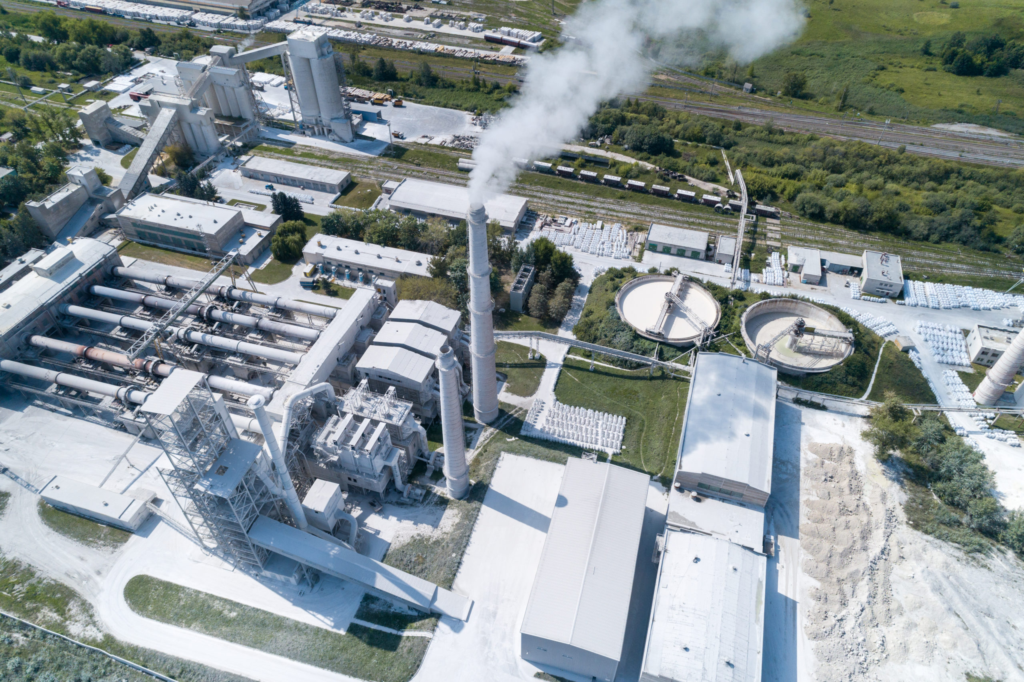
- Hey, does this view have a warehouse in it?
Yes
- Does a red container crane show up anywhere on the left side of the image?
No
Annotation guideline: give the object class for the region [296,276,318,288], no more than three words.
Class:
vehicle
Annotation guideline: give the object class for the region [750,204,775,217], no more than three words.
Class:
rail car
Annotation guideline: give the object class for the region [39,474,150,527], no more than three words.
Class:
building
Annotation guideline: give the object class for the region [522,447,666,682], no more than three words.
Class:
warehouse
